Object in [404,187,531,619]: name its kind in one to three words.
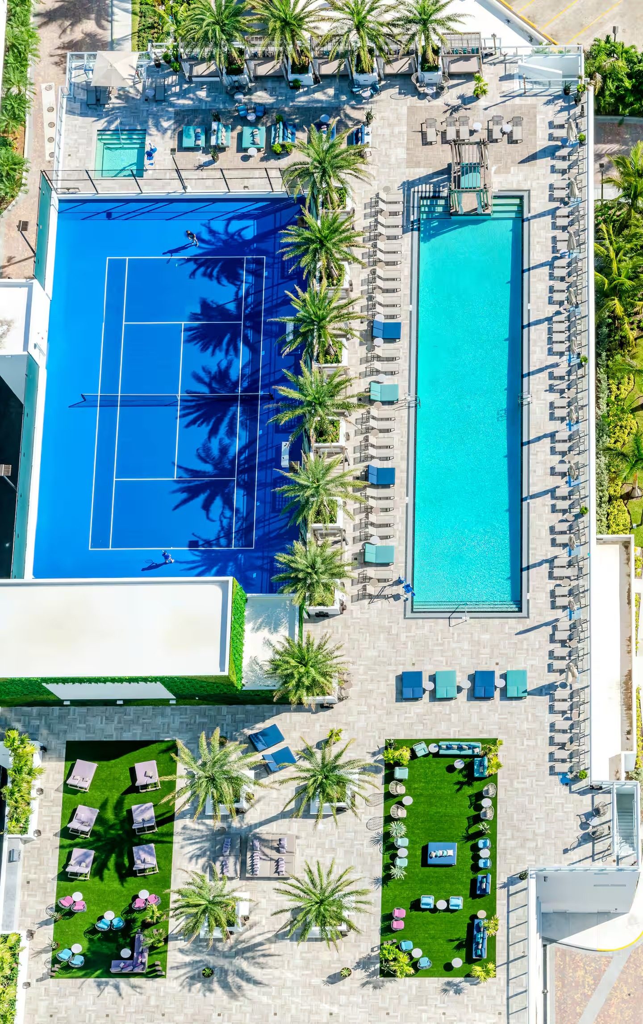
swimming pool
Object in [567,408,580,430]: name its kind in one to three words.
umbrella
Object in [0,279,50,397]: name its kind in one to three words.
building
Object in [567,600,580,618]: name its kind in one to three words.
umbrella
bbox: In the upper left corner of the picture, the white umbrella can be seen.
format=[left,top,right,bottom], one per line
[91,51,139,96]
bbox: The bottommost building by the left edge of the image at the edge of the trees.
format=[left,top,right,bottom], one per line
[0,577,250,711]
